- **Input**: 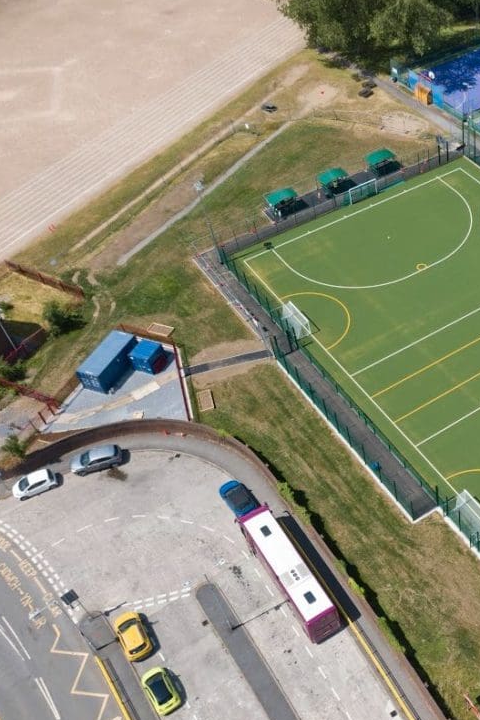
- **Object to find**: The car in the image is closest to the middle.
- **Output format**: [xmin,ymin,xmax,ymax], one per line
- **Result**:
[221,480,258,521]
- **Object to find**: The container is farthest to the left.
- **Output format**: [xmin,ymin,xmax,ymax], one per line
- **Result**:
[76,330,138,393]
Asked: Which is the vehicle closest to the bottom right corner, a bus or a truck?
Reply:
bus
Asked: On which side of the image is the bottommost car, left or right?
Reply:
left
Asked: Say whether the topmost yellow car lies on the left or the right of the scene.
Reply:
left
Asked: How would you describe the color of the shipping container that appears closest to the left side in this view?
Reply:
blue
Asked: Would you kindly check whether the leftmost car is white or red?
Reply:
white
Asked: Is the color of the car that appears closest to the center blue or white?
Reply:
blue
